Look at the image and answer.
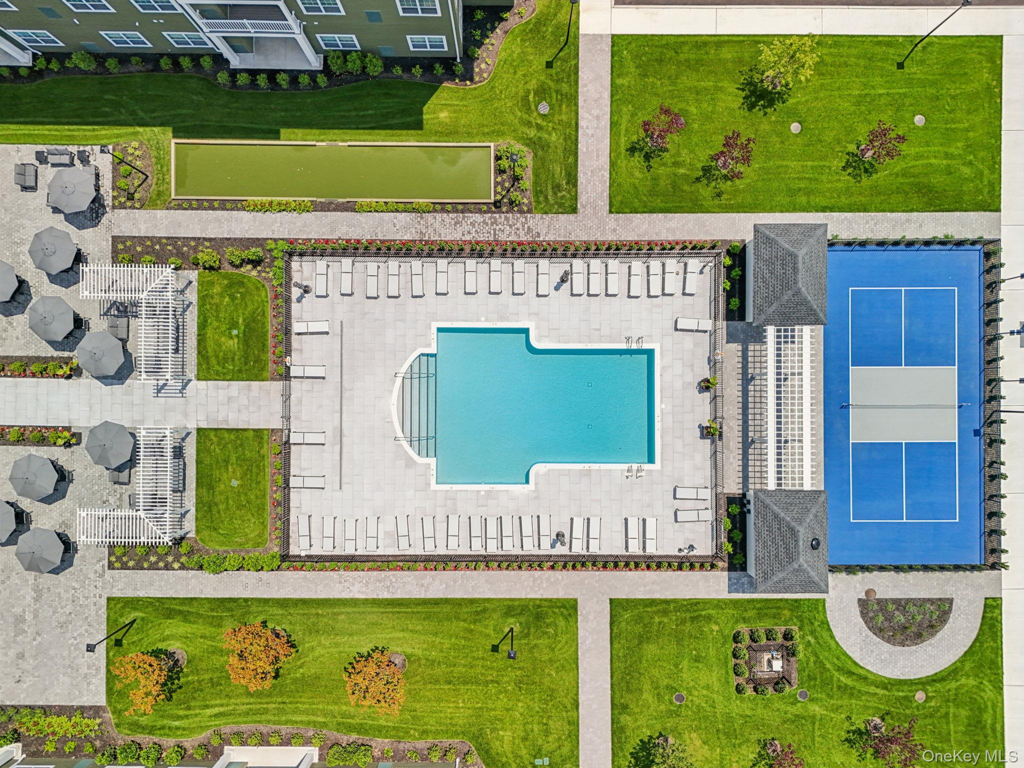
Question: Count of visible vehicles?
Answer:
zero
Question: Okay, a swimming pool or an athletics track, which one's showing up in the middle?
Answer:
swimming pool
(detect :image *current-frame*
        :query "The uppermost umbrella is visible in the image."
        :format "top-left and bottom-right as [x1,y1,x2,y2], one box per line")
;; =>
[50,166,98,215]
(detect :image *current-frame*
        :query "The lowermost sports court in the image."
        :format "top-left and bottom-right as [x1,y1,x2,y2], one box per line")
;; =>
[824,245,984,565]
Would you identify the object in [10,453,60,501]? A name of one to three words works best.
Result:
umbrella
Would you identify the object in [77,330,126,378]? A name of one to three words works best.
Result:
umbrella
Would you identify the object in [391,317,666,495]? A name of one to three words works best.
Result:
swimming pool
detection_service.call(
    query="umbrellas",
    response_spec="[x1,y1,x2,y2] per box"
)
[560,271,569,283]
[29,226,79,276]
[27,293,78,343]
[0,498,20,541]
[10,453,60,501]
[293,282,311,293]
[556,531,566,546]
[86,420,135,469]
[77,330,126,378]
[0,257,23,304]
[16,525,66,574]
[50,166,98,215]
